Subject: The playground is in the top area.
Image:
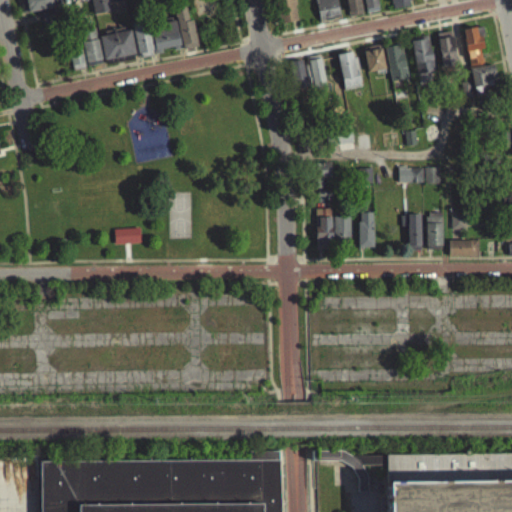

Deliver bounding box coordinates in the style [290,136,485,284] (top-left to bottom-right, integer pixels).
[128,104,172,163]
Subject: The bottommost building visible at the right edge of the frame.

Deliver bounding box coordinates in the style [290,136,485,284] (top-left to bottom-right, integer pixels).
[388,455,512,512]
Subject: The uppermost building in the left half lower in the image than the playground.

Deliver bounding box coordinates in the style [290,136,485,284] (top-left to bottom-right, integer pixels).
[114,228,142,244]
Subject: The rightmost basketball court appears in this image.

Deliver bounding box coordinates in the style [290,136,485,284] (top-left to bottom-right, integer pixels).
[170,192,192,238]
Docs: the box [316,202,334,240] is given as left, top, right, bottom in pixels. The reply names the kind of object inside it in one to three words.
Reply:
house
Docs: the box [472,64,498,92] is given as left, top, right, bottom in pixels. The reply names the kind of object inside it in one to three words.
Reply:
shed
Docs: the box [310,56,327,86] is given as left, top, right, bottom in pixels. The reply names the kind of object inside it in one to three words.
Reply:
house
